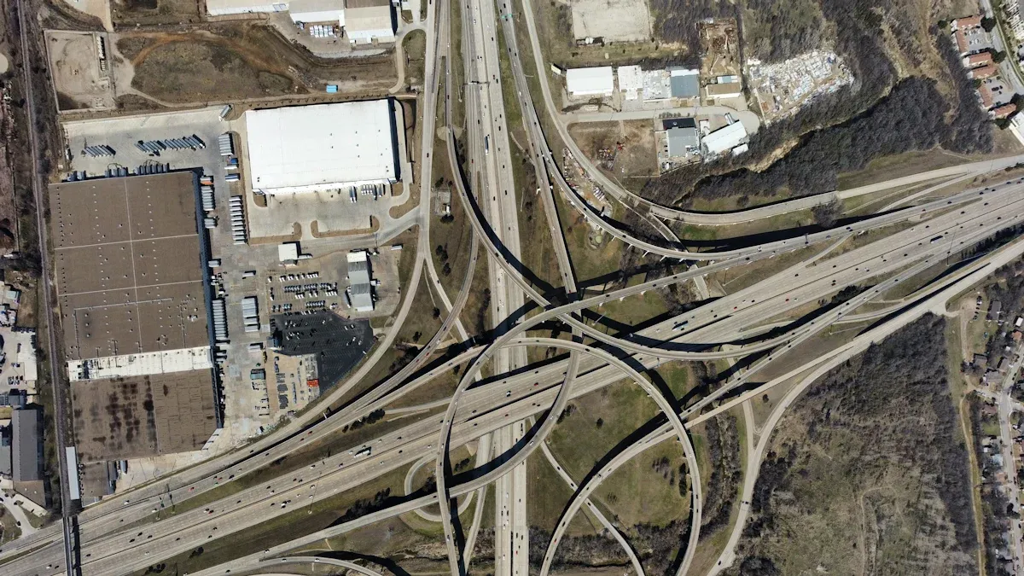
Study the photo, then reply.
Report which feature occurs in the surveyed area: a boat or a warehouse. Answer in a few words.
warehouse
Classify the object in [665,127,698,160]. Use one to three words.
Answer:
building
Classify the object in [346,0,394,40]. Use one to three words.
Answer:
building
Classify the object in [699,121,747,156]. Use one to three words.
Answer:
shed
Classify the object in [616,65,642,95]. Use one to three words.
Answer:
shed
